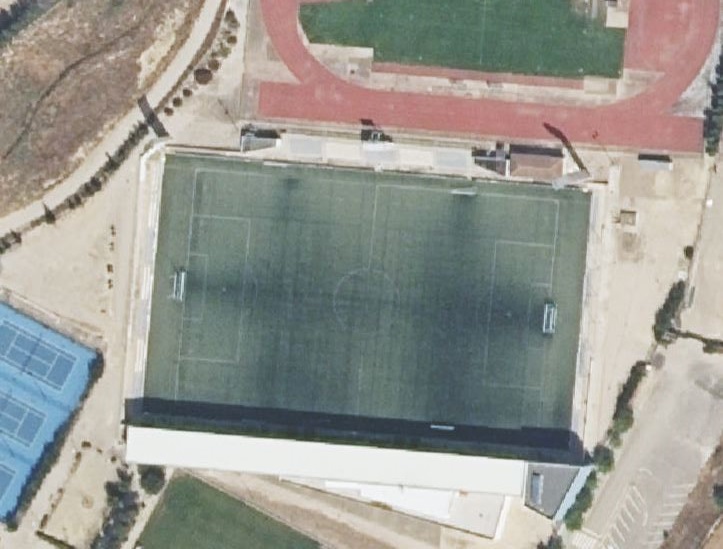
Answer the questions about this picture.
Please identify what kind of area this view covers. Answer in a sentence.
The area seen from above is a sports ground.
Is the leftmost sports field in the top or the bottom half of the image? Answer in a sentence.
The leftmost sports field is in the bottom half of the image.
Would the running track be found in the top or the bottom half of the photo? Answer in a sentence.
It is in the top half that the running track appears.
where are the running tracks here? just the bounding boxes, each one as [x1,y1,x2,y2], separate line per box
[258,0,720,155]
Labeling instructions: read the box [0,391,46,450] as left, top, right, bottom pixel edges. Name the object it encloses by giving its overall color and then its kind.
blue tennis court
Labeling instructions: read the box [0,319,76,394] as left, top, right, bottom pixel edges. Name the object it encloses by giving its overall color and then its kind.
blue tennis court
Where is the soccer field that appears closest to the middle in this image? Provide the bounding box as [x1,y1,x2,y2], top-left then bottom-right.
[143,154,590,451]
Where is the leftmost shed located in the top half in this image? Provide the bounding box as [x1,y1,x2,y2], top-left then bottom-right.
[241,136,280,154]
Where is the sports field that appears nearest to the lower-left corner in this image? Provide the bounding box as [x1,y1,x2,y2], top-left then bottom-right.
[139,472,329,549]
